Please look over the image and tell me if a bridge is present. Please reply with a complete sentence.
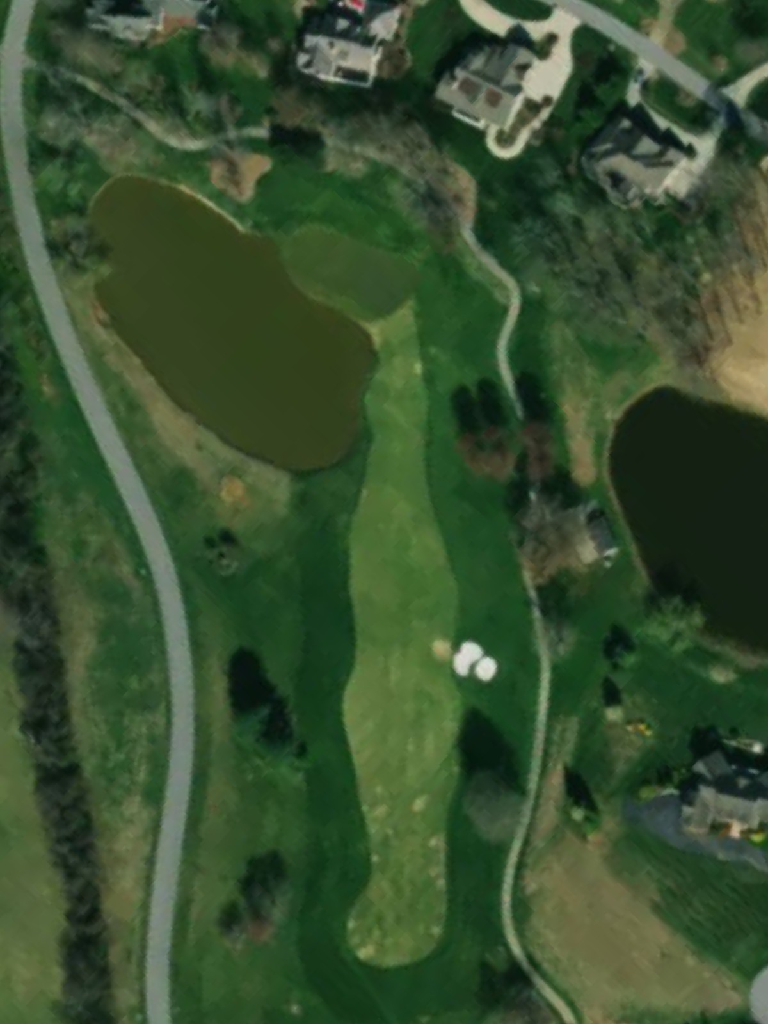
No, the picture doesn't show any bridge.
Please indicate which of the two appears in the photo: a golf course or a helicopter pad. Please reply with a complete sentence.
It is a golf course that can be seen here.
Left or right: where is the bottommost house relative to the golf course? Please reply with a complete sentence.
Compared with the golf course, the bottommost house is located further to the right.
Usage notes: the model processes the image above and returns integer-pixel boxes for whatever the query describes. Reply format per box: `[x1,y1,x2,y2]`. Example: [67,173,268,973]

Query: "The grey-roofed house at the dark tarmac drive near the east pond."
[682,750,768,837]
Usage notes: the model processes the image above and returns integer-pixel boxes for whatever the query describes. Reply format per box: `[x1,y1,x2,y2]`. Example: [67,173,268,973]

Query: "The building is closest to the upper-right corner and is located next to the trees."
[583,107,693,200]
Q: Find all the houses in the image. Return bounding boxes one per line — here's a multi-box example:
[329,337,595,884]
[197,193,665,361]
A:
[682,750,768,837]
[431,26,546,129]
[583,107,693,200]
[78,0,214,40]
[295,0,410,85]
